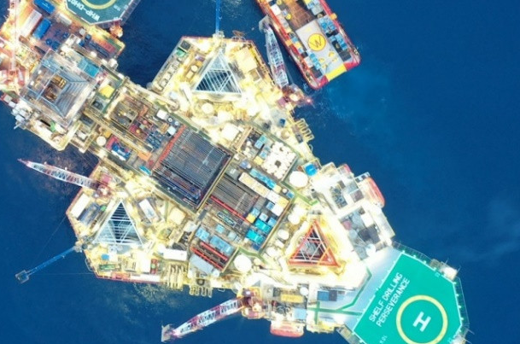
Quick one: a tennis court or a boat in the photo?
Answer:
boat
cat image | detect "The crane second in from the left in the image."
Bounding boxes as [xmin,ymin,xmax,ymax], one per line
[21,156,118,200]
